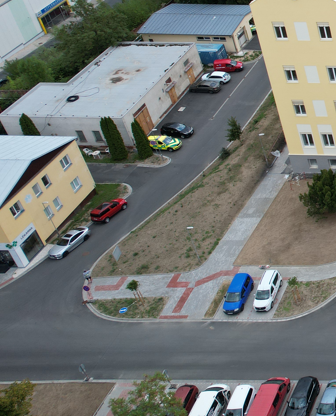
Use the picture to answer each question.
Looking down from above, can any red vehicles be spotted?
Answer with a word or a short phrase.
Yes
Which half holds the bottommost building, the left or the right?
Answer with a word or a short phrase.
left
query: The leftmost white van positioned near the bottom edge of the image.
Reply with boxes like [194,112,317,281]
[188,385,228,416]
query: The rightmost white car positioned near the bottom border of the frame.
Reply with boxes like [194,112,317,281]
[221,388,257,416]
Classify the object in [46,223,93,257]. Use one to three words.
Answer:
car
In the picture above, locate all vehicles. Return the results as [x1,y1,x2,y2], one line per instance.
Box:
[186,79,222,93]
[85,194,132,221]
[210,56,244,71]
[253,271,285,311]
[156,119,195,136]
[148,132,183,149]
[188,385,228,416]
[197,68,233,82]
[249,378,290,416]
[160,388,199,416]
[221,388,257,416]
[314,381,336,416]
[222,271,258,315]
[46,223,93,257]
[283,380,321,416]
